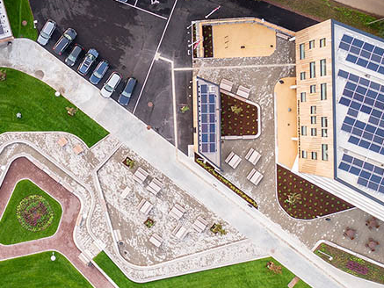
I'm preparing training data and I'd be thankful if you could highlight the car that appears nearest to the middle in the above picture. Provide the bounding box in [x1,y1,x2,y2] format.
[118,76,138,105]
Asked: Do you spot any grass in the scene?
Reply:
Yes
